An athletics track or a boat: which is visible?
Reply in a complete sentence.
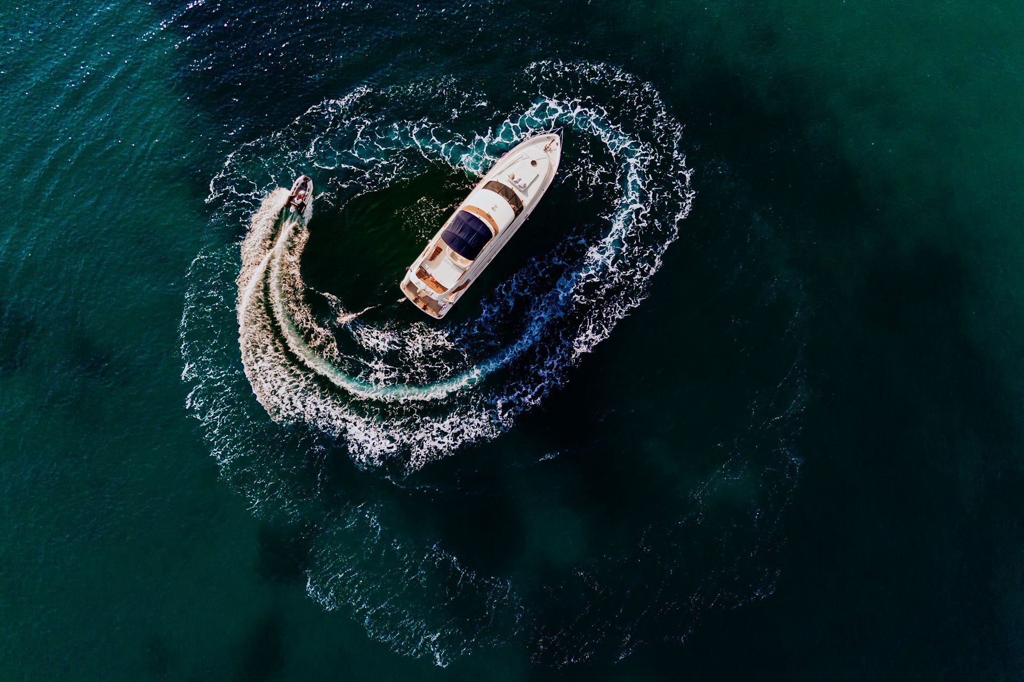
Of the two, only a boat appears.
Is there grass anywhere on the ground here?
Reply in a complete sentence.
No, the picture contains no grass.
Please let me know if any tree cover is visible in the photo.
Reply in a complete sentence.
No, the picture contains no tree cover.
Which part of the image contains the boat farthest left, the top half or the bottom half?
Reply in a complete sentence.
The boat farthest left sits in the top half of the picture.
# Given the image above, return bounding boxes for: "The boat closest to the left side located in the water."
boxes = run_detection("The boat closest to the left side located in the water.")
[284,173,313,215]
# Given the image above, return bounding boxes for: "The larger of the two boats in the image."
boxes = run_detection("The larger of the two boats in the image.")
[402,125,563,320]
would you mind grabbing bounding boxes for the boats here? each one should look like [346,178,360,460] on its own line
[402,125,563,320]
[284,173,313,215]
